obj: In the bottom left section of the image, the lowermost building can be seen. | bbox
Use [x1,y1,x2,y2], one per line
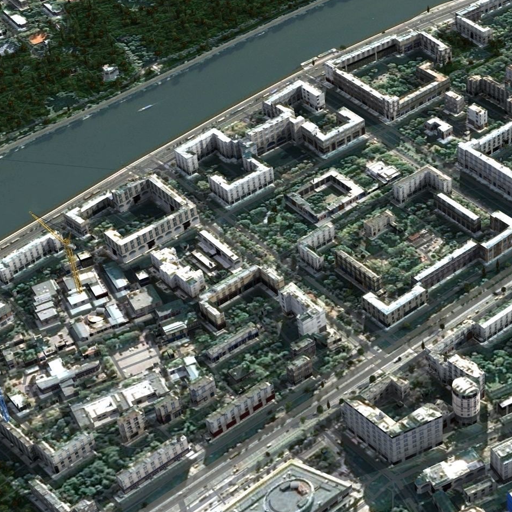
[27,473,88,512]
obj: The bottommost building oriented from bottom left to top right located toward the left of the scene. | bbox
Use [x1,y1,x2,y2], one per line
[115,434,190,491]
